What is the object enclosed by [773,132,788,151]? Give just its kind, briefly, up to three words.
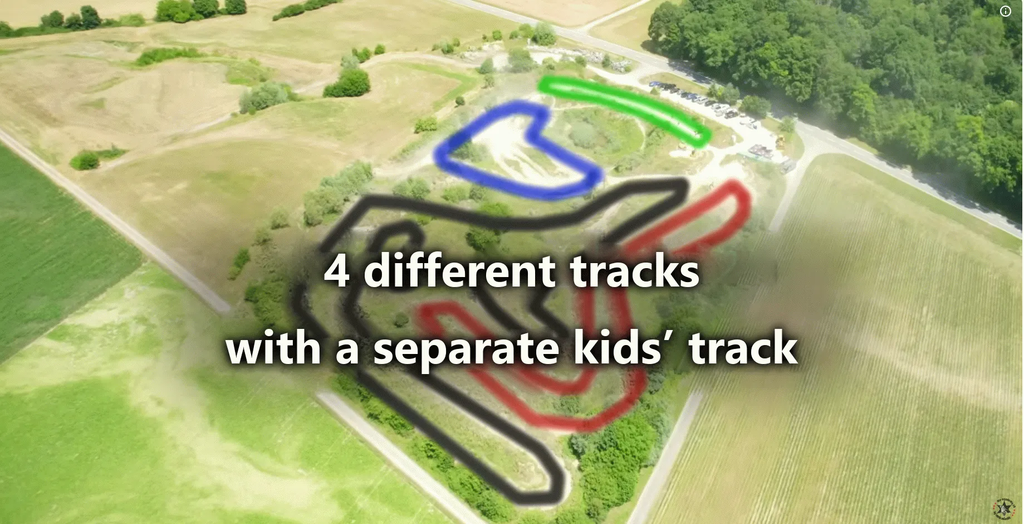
work vehicle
